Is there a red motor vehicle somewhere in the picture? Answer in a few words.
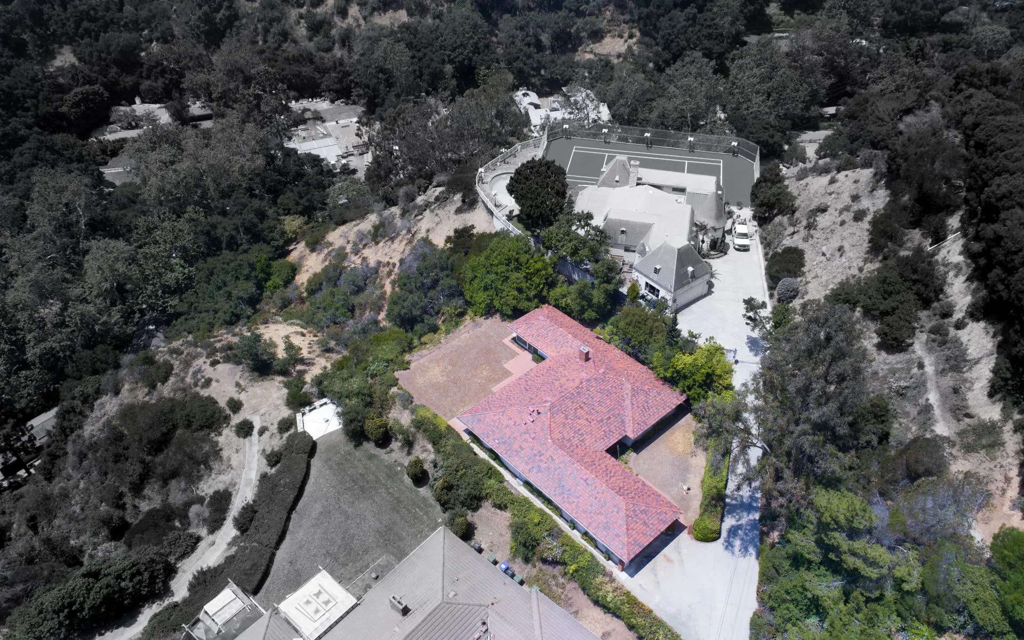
No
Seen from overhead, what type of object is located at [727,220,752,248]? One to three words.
truck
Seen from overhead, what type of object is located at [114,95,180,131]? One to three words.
house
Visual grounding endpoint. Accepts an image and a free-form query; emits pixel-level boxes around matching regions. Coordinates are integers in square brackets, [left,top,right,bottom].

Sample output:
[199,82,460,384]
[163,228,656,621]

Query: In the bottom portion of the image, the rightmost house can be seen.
[457,303,688,565]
